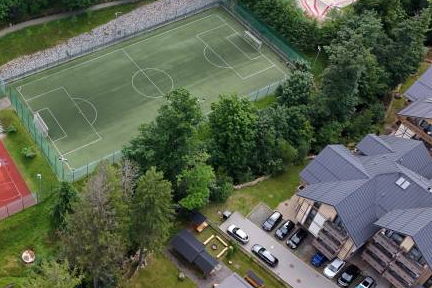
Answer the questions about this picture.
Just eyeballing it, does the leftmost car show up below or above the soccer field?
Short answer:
below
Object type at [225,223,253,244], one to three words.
car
